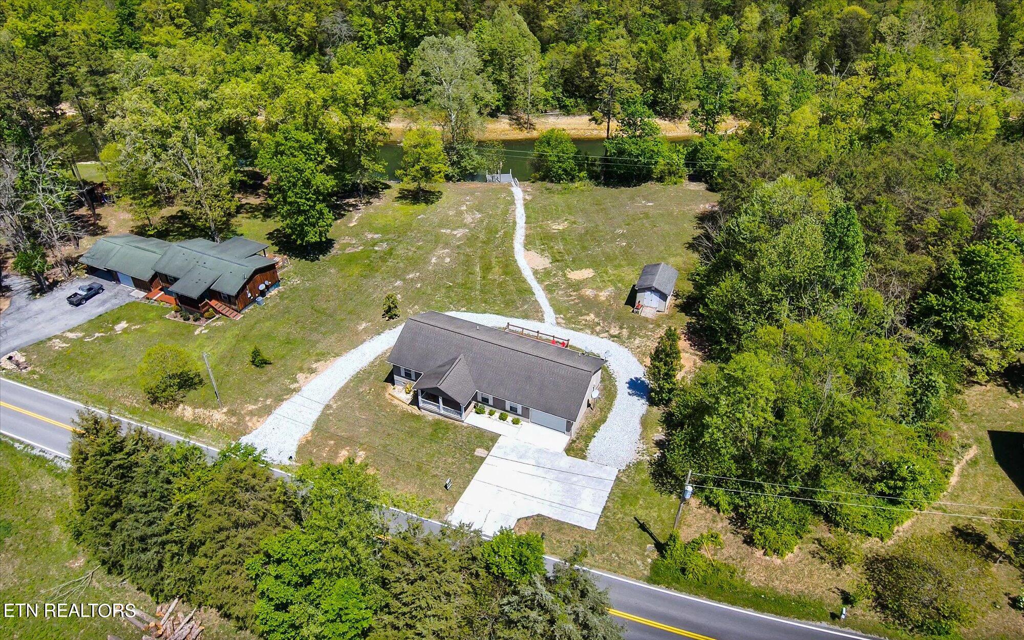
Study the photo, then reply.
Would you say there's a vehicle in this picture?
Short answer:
Yes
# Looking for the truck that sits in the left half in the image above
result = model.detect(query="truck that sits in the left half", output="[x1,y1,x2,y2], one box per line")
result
[66,283,107,308]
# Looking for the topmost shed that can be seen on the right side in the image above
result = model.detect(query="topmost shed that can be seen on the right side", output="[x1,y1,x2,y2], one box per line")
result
[635,265,679,321]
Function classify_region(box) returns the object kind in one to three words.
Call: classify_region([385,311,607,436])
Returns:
house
